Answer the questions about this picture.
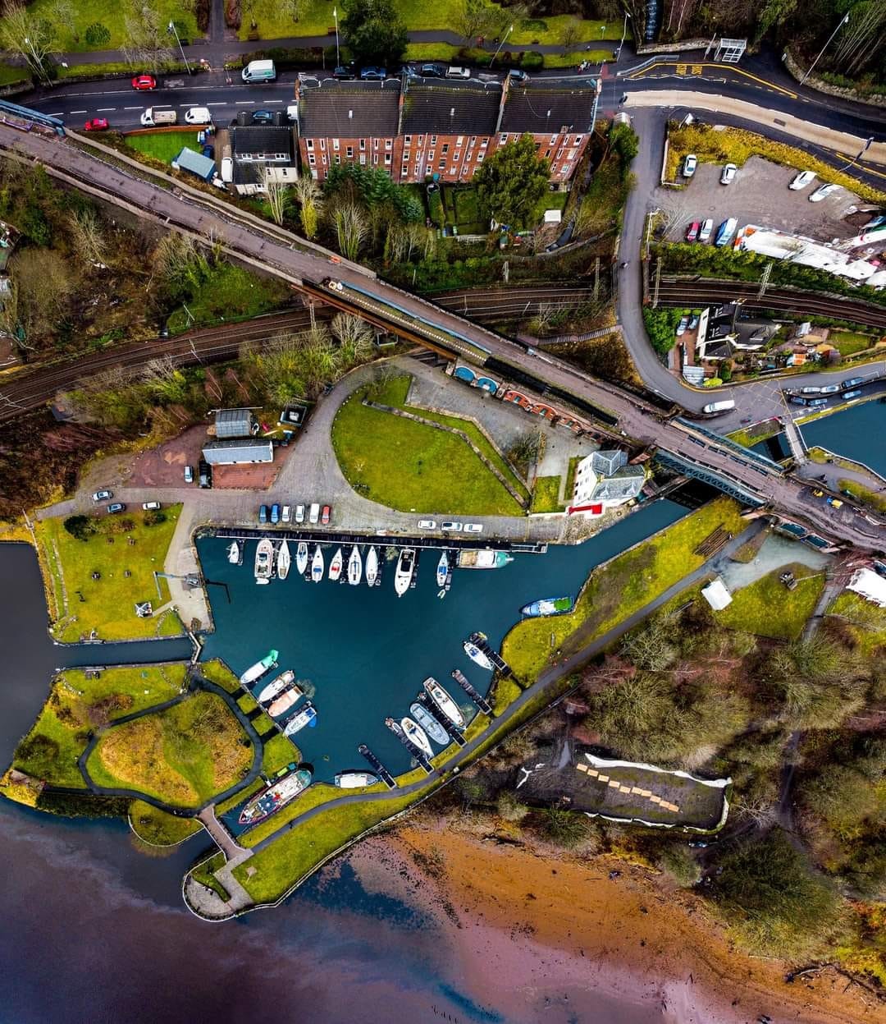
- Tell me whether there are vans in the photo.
Yes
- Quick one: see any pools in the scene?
No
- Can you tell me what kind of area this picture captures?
port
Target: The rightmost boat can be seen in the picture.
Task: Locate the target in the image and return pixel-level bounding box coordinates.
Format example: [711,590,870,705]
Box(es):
[520,598,573,615]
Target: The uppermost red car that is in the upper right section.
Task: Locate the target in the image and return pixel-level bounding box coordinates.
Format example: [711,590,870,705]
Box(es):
[686,221,700,241]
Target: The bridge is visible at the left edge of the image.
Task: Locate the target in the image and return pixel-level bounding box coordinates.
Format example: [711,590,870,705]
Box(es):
[0,98,70,139]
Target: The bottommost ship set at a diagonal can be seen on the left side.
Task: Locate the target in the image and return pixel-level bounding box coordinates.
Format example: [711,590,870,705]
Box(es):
[239,766,312,833]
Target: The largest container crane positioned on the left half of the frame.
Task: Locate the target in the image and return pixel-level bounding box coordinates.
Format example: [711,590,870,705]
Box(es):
[153,569,200,601]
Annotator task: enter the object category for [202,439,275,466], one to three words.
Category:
shed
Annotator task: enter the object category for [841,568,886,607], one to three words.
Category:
tent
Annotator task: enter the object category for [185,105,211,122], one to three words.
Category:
vehicle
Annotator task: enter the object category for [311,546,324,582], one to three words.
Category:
boat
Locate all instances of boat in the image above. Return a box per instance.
[275,540,292,579]
[230,541,239,565]
[270,685,303,715]
[311,546,324,582]
[463,640,493,668]
[390,718,400,731]
[410,700,447,744]
[259,668,296,702]
[254,579,269,584]
[285,705,317,735]
[306,715,317,730]
[458,550,512,568]
[364,546,379,585]
[295,542,308,575]
[241,652,275,684]
[423,676,465,727]
[335,772,376,788]
[329,549,343,580]
[347,545,363,584]
[520,598,573,615]
[401,715,433,757]
[437,552,448,586]
[254,540,275,578]
[396,550,417,596]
